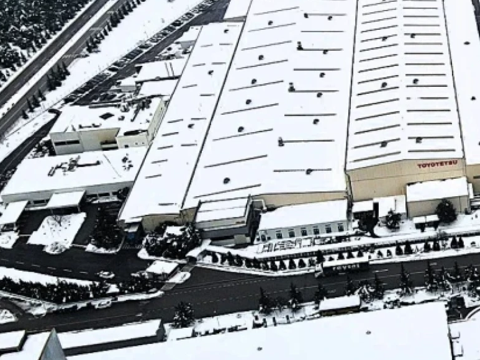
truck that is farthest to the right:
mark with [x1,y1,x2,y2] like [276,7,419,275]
[316,256,370,280]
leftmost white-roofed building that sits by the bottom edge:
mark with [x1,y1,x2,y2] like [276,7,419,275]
[0,329,27,360]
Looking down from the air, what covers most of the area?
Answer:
buildings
